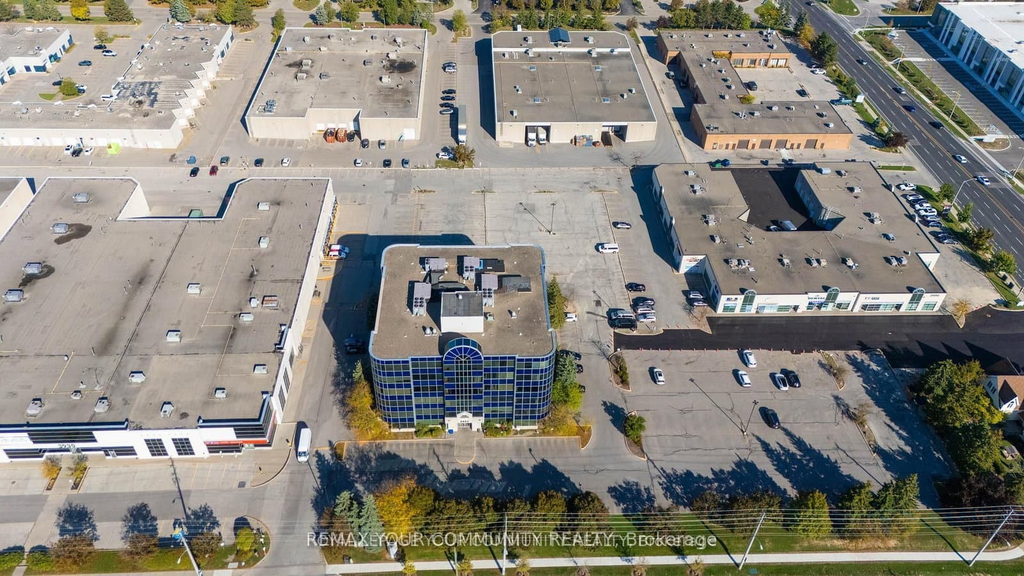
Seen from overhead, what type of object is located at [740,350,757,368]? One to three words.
car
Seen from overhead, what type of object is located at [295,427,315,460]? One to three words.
vehicle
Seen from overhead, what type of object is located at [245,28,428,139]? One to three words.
warehouse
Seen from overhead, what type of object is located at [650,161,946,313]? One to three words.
building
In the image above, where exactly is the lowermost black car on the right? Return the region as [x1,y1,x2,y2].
[763,409,781,429]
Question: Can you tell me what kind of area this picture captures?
industrial area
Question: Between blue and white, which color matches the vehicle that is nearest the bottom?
white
